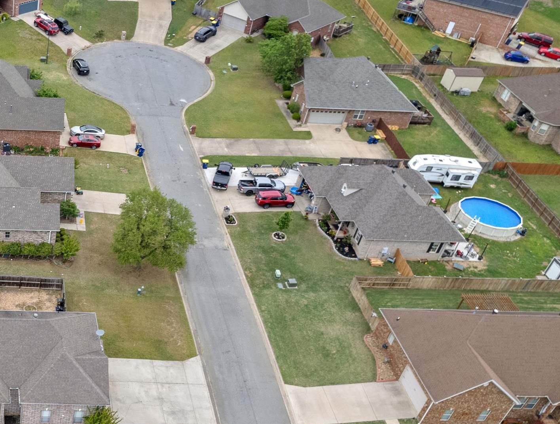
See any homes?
Yes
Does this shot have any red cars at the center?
Yes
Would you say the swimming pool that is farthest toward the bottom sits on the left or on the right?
right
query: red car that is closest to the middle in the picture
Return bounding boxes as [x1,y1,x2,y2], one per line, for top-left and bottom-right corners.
[254,190,300,210]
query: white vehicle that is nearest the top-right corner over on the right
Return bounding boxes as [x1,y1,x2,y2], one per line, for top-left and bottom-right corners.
[405,150,491,185]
